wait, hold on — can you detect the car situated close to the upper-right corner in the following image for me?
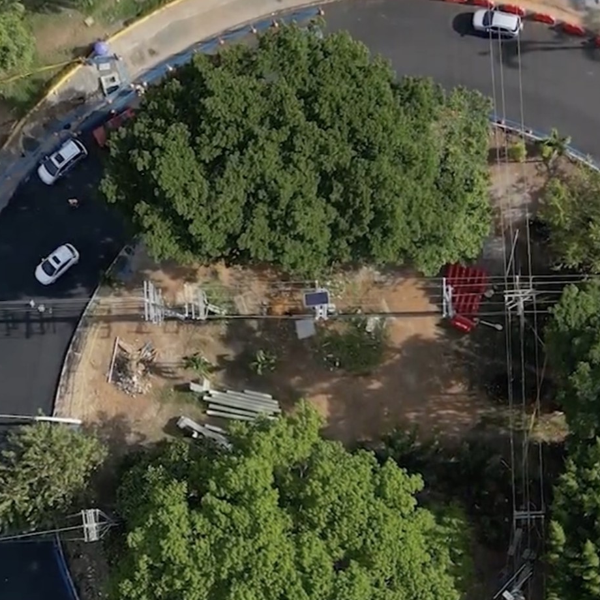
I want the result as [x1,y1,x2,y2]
[473,6,526,37]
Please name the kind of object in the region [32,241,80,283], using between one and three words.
car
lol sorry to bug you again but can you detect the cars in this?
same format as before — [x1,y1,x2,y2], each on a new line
[32,241,80,283]
[473,6,526,37]
[35,138,87,181]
